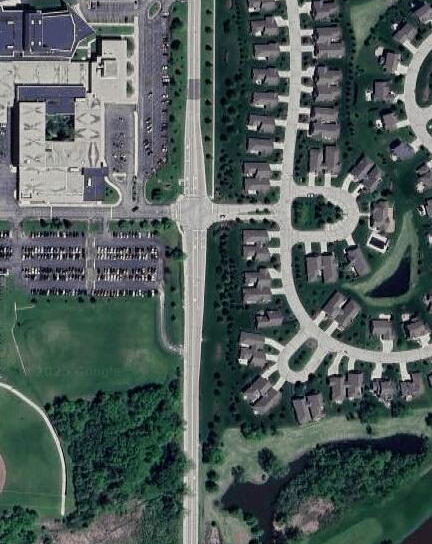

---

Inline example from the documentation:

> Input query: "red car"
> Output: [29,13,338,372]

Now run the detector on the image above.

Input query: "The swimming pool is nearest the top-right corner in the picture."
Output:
[366,230,389,251]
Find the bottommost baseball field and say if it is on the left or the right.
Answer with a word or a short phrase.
left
